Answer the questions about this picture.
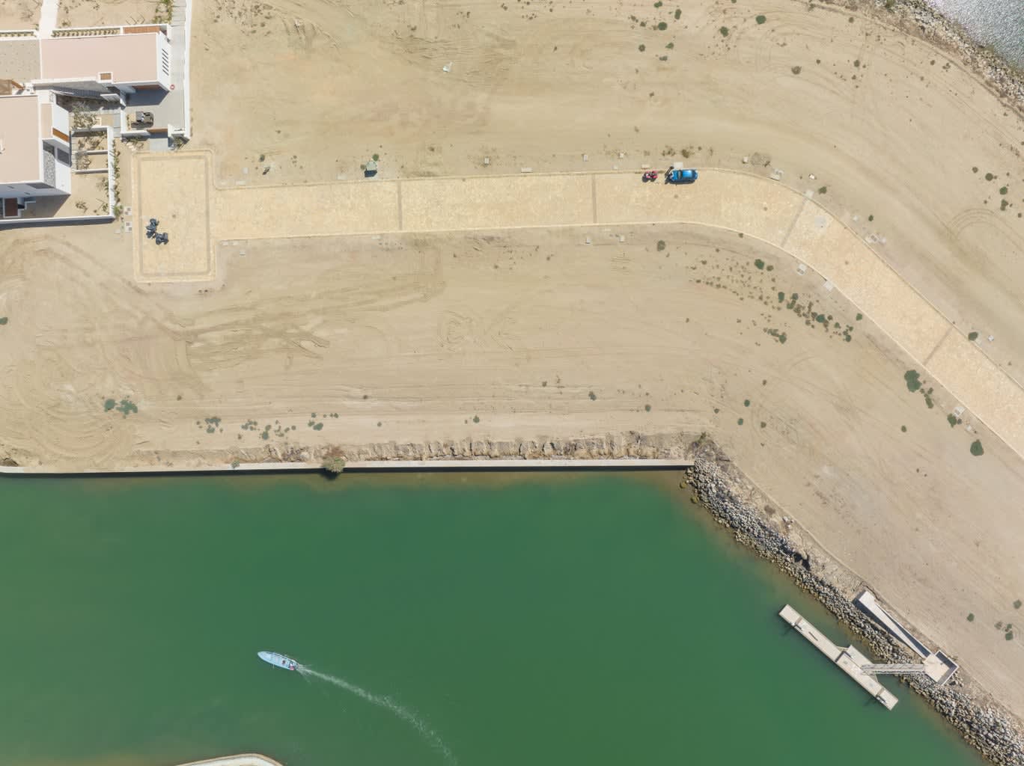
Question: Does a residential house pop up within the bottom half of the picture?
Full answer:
No, no residential house is visible within the bottom half of the picture.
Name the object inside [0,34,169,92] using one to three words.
house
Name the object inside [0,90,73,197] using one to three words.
house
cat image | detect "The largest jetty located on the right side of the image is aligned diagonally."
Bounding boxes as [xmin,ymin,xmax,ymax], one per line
[778,604,898,710]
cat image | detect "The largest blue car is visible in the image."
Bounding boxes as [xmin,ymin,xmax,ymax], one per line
[671,169,698,183]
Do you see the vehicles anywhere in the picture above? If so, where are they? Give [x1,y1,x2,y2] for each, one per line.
[645,170,659,180]
[145,217,161,235]
[153,232,170,243]
[133,111,155,124]
[671,169,698,183]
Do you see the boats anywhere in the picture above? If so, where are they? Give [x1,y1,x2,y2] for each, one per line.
[257,654,298,673]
